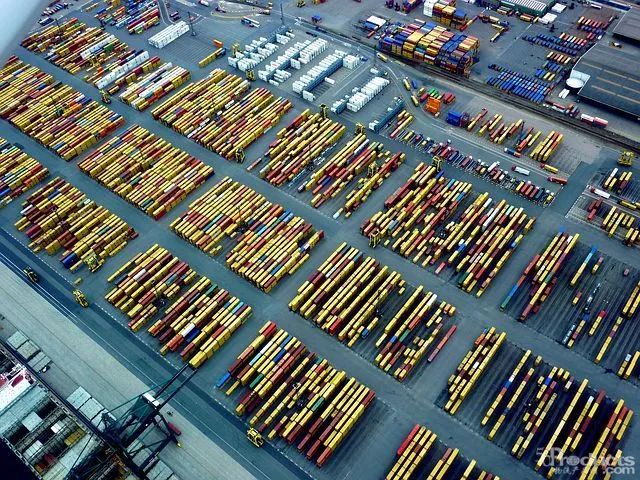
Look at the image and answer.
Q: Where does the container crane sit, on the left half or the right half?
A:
left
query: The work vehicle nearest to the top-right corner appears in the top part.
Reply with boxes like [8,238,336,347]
[618,148,634,166]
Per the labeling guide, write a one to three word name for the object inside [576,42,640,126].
building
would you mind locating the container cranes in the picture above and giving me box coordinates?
[52,362,199,480]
